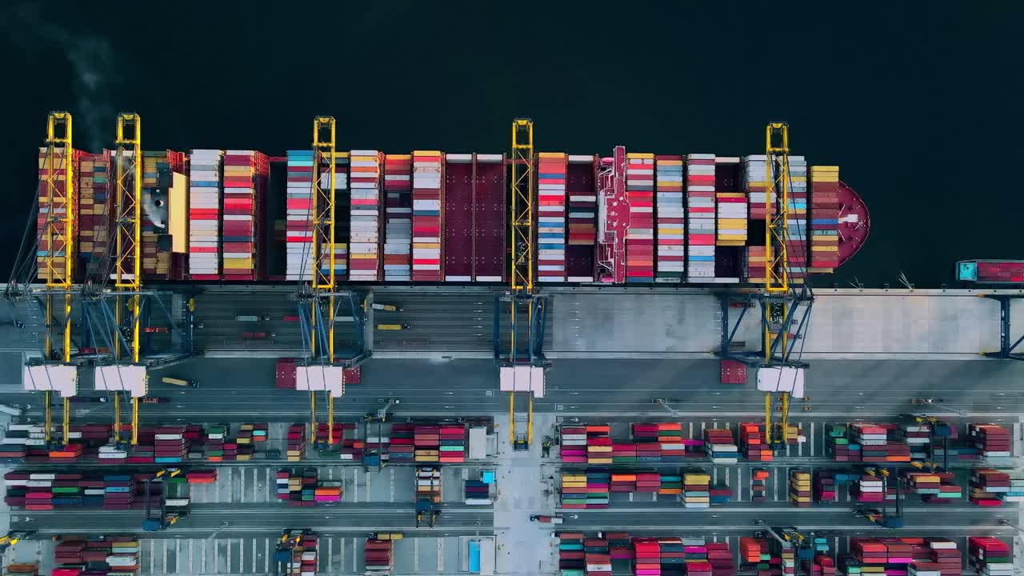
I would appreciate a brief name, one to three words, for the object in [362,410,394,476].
container crane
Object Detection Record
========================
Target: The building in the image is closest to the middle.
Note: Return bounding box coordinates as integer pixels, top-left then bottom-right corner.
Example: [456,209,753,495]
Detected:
[469,427,486,458]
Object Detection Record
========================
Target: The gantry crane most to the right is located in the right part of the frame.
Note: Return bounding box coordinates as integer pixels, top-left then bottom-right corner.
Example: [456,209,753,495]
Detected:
[972,294,1024,361]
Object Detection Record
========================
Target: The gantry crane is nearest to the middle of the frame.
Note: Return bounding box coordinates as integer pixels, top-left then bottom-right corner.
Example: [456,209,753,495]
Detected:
[490,119,551,444]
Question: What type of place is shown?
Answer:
port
